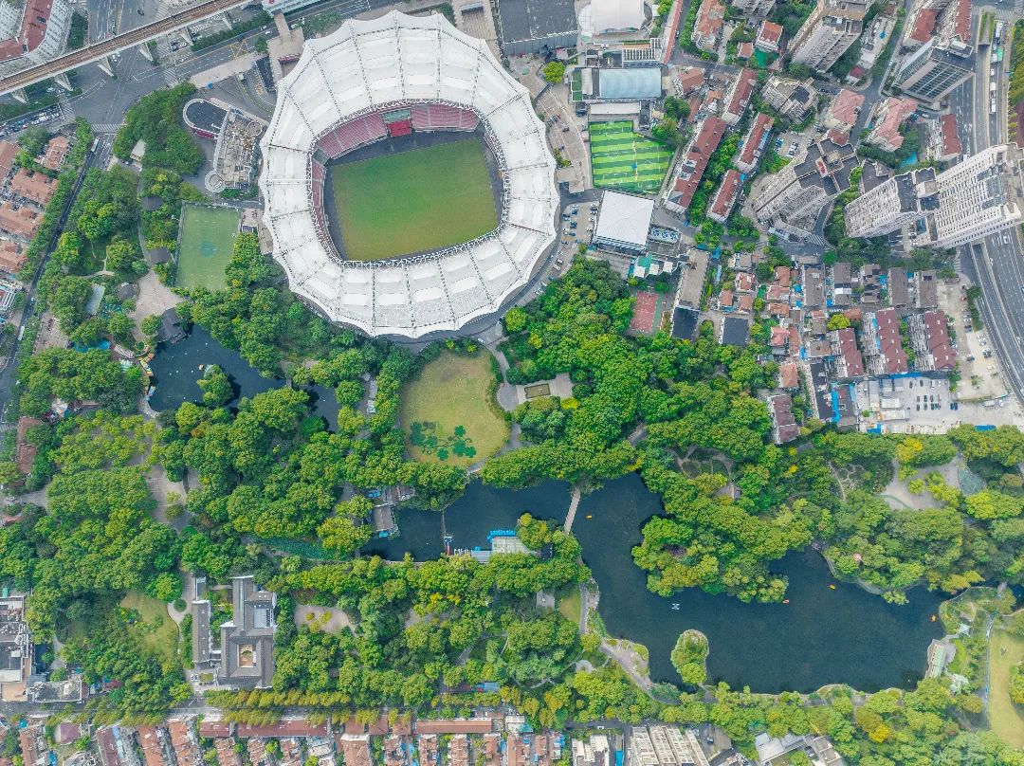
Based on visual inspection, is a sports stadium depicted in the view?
Yes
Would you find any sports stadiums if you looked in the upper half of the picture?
Yes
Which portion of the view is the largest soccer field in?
top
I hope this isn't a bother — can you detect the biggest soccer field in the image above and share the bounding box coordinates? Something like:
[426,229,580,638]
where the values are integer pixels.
[331,137,497,260]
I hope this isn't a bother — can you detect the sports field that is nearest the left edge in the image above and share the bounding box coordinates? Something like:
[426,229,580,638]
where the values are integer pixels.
[174,203,240,291]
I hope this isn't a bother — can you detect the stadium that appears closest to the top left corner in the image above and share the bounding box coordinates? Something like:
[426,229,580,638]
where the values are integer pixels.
[258,10,559,338]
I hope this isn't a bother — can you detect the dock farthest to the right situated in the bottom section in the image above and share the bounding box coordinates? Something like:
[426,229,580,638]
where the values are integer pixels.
[493,537,536,554]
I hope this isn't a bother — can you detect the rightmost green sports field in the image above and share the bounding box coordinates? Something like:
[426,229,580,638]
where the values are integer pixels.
[589,118,678,194]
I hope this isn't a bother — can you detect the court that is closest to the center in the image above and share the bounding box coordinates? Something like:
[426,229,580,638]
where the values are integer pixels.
[630,291,663,334]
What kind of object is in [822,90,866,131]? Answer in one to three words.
building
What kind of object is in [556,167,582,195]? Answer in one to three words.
shed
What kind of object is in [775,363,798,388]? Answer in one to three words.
house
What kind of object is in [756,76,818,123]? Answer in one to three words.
building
